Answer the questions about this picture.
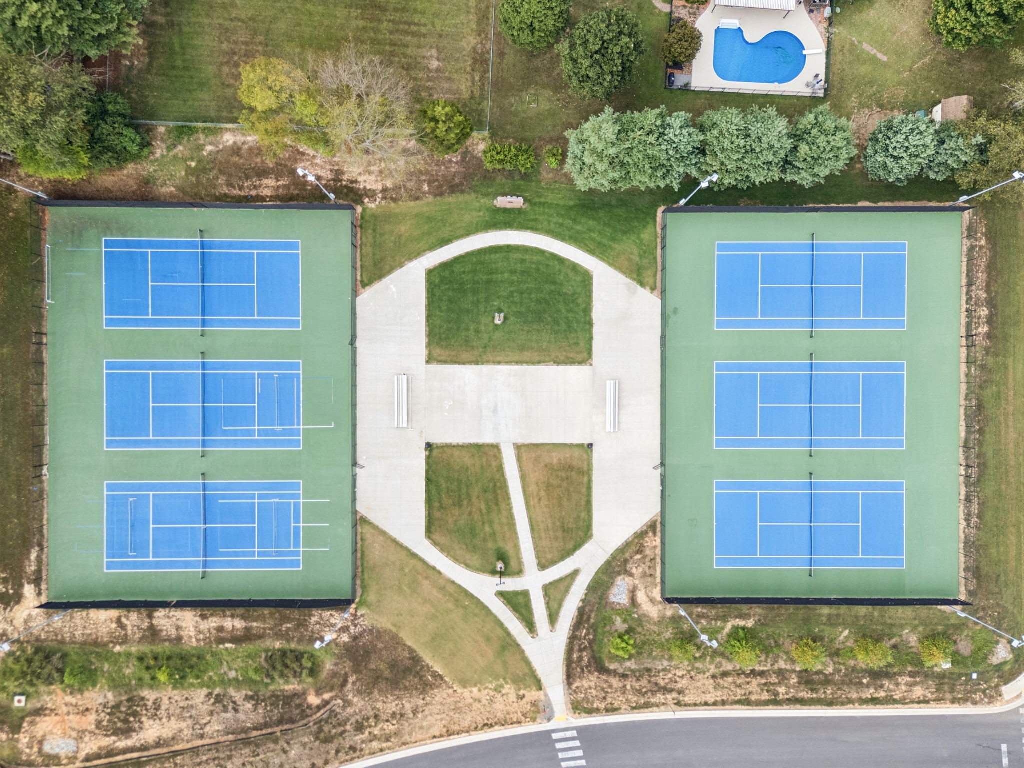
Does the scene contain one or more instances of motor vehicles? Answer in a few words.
No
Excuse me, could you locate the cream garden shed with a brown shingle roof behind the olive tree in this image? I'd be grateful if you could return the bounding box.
[933,94,974,130]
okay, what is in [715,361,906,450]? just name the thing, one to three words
tennis court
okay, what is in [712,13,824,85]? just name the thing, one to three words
swimming pool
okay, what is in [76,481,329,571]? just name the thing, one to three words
tennis court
